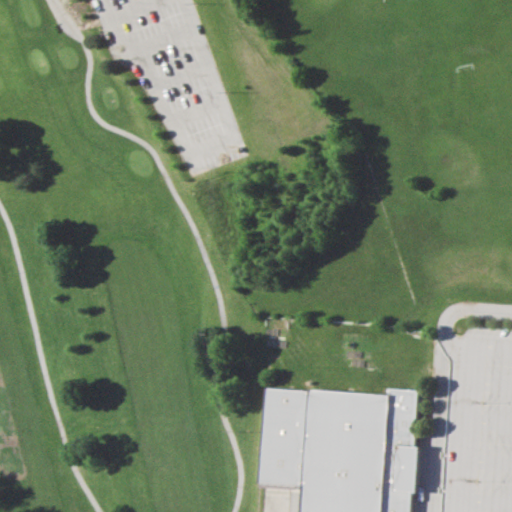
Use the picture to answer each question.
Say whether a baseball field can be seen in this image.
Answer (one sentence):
No, I find no baseball field anywhere in the image.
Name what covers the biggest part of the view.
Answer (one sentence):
The bulk of the photo consists of grass.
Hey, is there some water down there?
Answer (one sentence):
No, there's no water in this view.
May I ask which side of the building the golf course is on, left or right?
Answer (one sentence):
In the image, the golf course sits on the left side of the building.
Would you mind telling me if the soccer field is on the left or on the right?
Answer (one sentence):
It is on the right.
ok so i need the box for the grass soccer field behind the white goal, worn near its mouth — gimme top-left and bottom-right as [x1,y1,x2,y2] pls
[411,0,505,77]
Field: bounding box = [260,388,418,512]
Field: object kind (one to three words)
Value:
building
